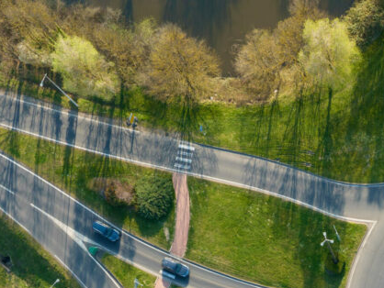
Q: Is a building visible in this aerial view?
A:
No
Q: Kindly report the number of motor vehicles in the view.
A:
two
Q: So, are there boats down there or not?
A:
No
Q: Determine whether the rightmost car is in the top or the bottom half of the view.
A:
bottom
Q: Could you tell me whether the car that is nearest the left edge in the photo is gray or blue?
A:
blue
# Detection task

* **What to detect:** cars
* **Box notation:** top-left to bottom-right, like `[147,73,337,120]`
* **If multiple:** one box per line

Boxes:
[160,258,189,278]
[91,220,122,241]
